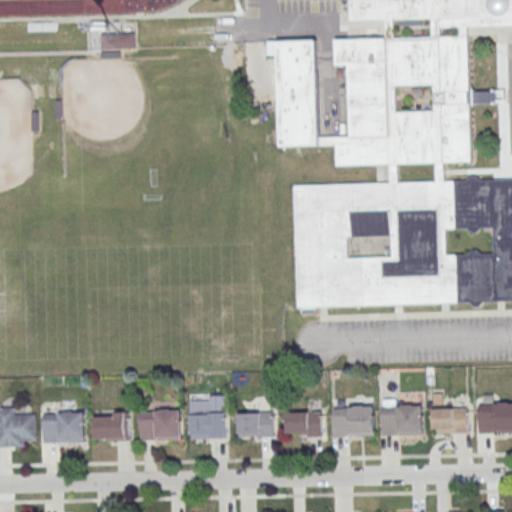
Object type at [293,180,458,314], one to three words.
building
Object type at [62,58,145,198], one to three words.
baseball field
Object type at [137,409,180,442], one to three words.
house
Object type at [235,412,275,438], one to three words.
house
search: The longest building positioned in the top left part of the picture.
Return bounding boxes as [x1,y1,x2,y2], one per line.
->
[101,32,134,49]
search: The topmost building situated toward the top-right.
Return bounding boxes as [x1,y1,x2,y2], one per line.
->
[266,0,512,181]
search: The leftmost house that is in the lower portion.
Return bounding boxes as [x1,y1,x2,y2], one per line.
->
[0,407,36,448]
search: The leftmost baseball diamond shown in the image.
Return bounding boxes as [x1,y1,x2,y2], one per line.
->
[0,78,34,192]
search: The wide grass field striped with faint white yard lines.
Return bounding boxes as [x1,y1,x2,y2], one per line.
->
[0,241,257,364]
